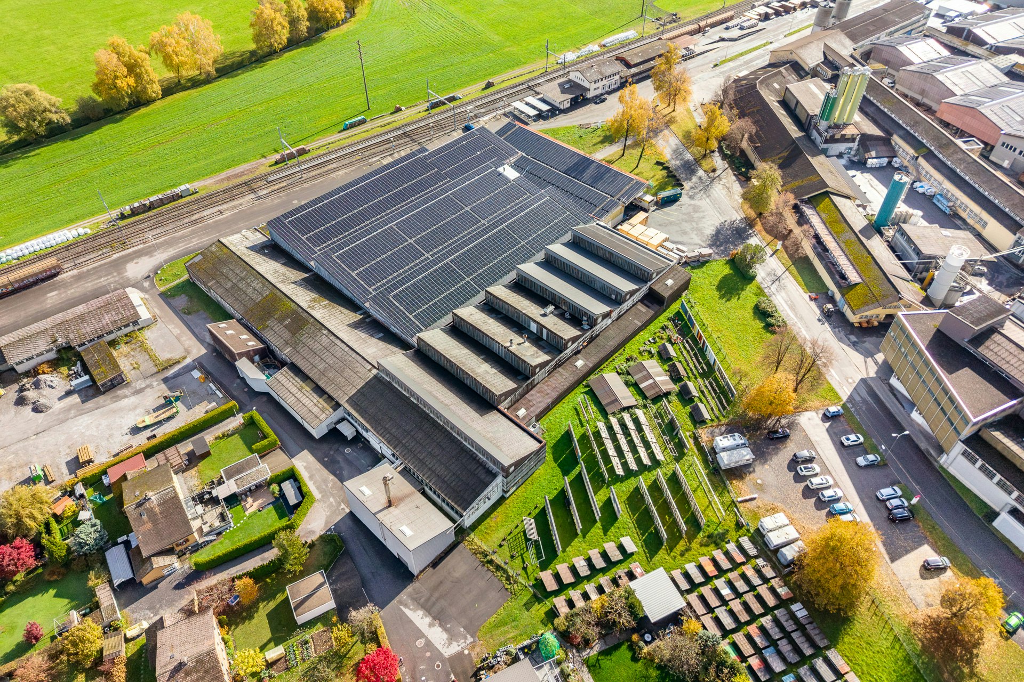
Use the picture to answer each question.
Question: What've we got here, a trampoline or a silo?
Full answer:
Visible in the photo is a silo.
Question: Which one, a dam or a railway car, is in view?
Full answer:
This aerial view contains a railway car.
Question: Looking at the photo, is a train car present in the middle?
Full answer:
No, no train car can be made out in the middle.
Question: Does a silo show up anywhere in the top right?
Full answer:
Yes, a silo is visible in the top right.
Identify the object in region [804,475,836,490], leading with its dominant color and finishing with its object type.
white car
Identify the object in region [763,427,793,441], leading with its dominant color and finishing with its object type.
black car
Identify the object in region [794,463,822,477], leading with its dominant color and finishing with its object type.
white car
